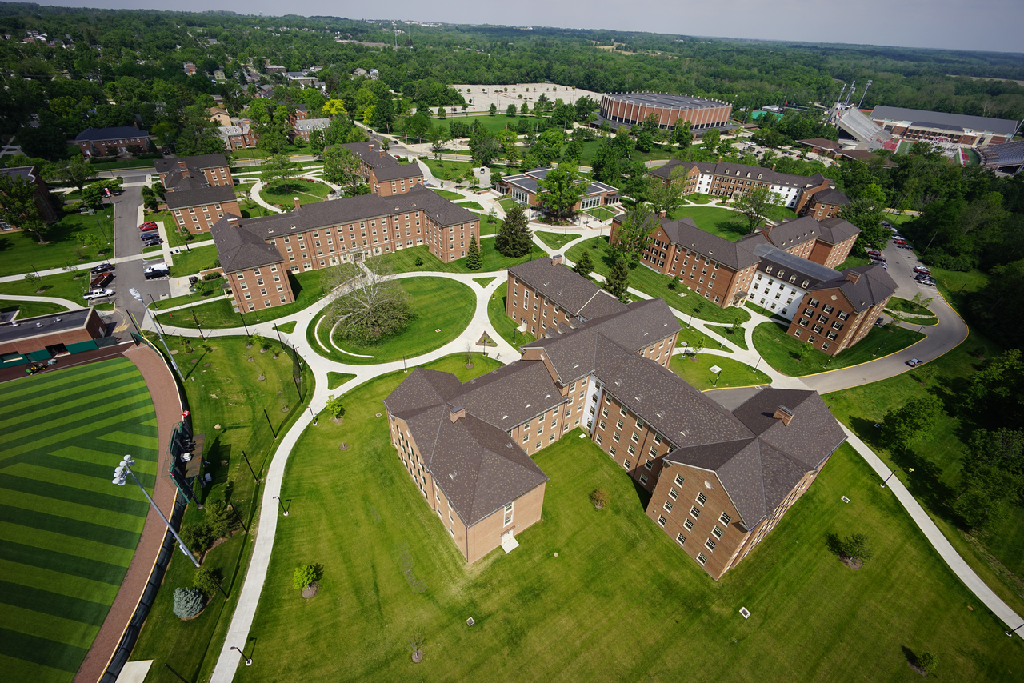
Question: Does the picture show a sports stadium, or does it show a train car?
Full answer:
There is a sports stadium in the scene.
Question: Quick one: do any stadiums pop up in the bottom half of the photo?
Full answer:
No, I can find no stadium in the bottom half of the photo.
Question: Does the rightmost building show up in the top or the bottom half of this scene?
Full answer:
Seen from above, the rightmost building lies in the top half of the view.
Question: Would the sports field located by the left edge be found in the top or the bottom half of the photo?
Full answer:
You can find the sports field located by the left edge in the bottom half.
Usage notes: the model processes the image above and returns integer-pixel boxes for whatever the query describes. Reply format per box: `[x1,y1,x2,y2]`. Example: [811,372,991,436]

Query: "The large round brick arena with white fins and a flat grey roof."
[576,90,753,142]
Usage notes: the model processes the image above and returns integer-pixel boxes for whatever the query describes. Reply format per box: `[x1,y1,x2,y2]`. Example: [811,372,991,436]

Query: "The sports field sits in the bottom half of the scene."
[0,357,159,683]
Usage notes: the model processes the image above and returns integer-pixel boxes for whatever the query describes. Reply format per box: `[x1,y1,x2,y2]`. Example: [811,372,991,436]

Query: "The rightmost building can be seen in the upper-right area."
[869,108,1017,150]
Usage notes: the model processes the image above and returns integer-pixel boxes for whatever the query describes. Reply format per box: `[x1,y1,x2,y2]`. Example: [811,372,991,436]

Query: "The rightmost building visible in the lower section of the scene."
[383,250,850,573]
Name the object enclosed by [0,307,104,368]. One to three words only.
building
